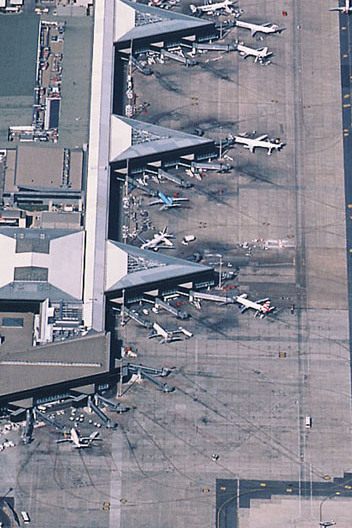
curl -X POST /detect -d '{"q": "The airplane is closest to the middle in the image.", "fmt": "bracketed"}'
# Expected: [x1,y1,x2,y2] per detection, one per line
[144,228,176,248]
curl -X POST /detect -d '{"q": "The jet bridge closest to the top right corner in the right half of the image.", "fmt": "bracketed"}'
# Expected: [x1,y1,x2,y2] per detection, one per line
[212,21,237,34]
